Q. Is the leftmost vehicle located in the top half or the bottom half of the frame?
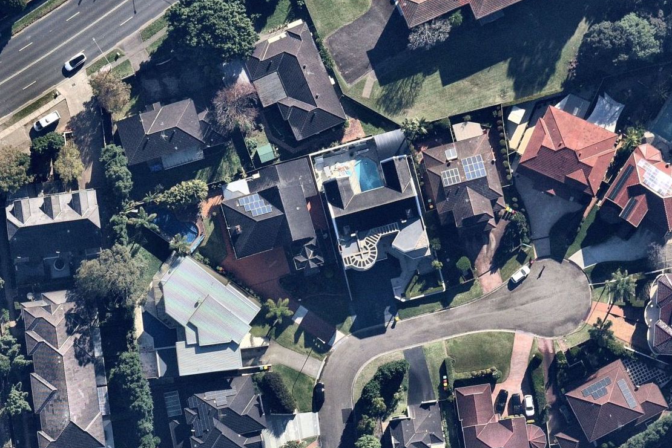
top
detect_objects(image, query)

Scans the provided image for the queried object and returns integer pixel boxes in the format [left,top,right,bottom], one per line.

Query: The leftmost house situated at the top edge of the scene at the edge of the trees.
[245,19,346,141]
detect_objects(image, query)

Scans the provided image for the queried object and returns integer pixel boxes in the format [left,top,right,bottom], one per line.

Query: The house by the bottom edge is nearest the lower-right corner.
[565,360,669,442]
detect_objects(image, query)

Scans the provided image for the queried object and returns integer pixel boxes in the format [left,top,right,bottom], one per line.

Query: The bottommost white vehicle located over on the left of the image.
[34,110,59,130]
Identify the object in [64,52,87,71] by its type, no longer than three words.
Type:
car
